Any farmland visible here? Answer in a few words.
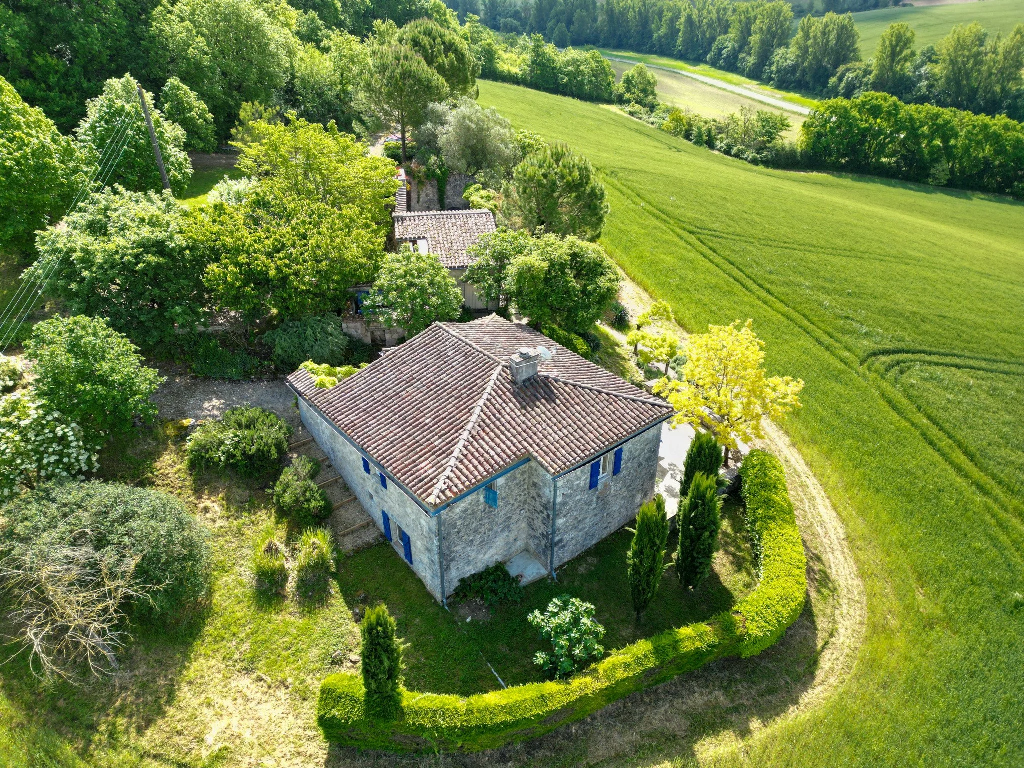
Yes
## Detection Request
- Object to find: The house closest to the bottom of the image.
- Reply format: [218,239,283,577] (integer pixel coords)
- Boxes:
[284,312,682,611]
